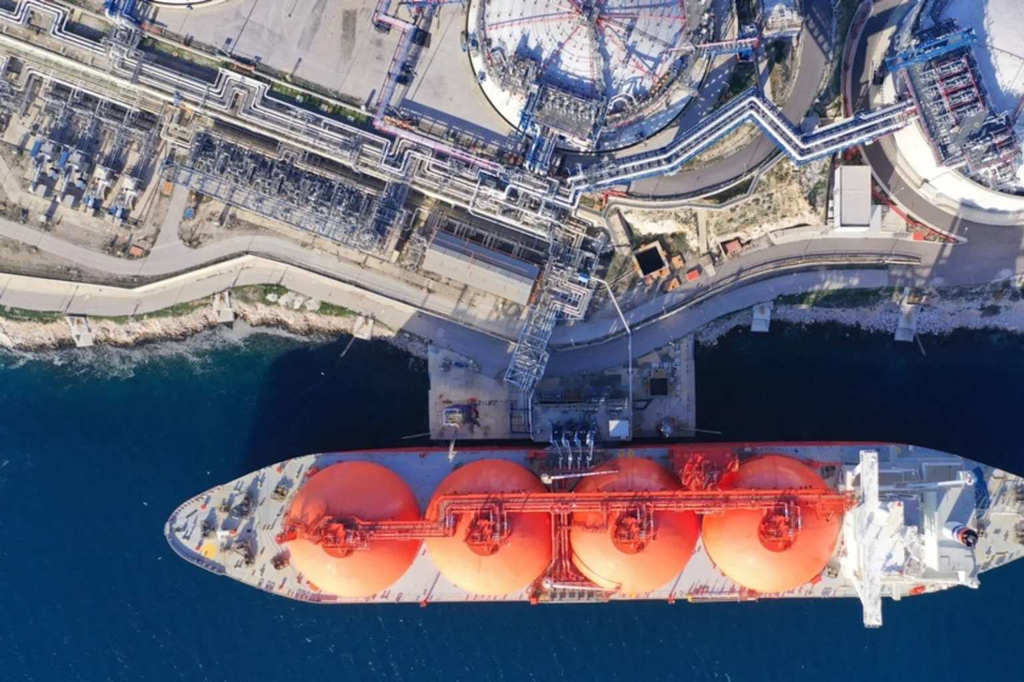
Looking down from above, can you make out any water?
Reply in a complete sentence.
Yes, water shows up in the scene.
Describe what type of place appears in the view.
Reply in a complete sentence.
What you see here is an industrial area.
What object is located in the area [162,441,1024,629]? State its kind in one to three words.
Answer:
ship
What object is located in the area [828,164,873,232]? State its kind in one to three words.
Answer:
building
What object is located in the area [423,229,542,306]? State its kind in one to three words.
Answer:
shed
